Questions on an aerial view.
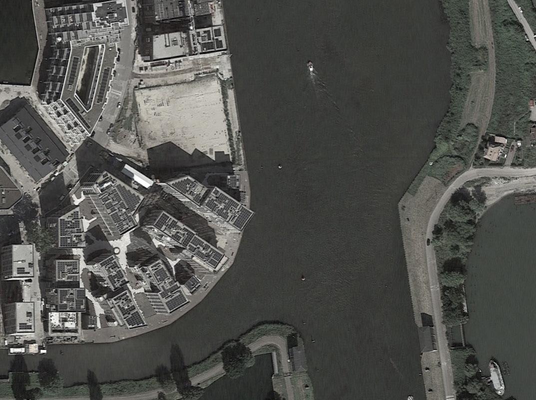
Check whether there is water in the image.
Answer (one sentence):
Yes, there is water in the image.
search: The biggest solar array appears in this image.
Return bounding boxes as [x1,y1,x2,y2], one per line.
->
[99,176,139,227]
